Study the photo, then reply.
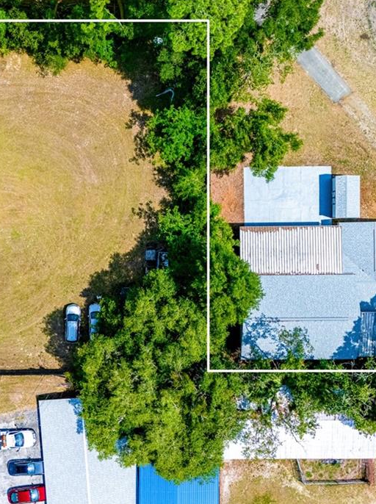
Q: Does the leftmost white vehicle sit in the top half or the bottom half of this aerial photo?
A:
bottom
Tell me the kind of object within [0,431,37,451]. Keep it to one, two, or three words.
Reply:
vehicle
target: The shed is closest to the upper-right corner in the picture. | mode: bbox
[335,176,361,218]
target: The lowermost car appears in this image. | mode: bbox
[7,484,45,503]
